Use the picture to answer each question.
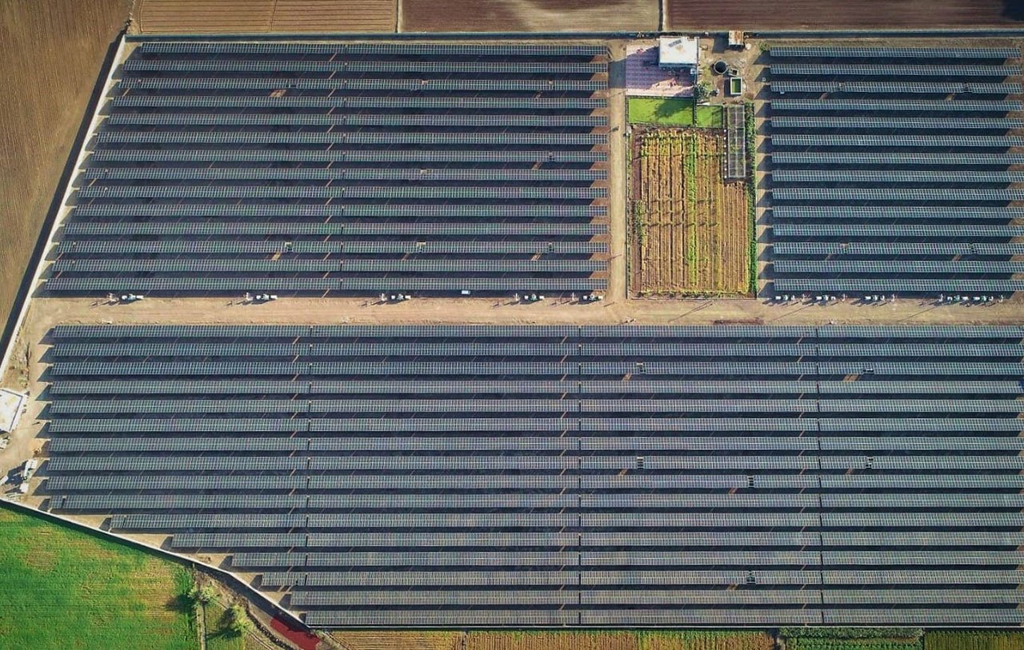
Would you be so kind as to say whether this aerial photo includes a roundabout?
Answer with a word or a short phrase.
No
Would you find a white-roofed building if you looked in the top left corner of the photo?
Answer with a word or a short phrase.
No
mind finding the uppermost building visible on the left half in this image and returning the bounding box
[0,387,28,433]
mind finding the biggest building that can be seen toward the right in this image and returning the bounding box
[658,37,699,72]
